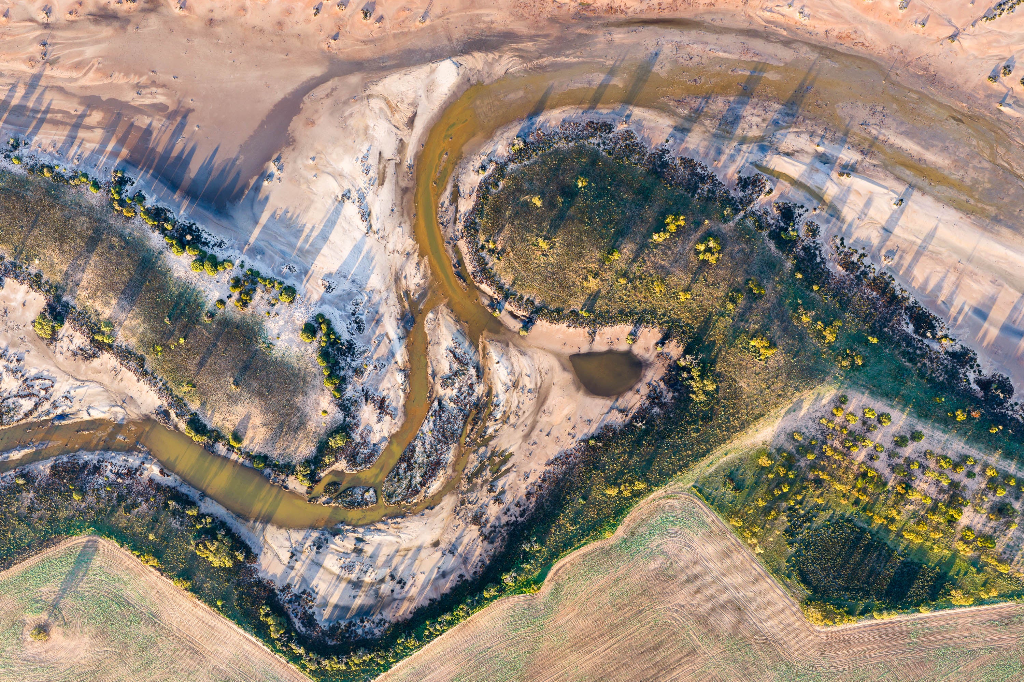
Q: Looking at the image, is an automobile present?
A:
No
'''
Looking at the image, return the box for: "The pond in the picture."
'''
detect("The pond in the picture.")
[570,354,637,394]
